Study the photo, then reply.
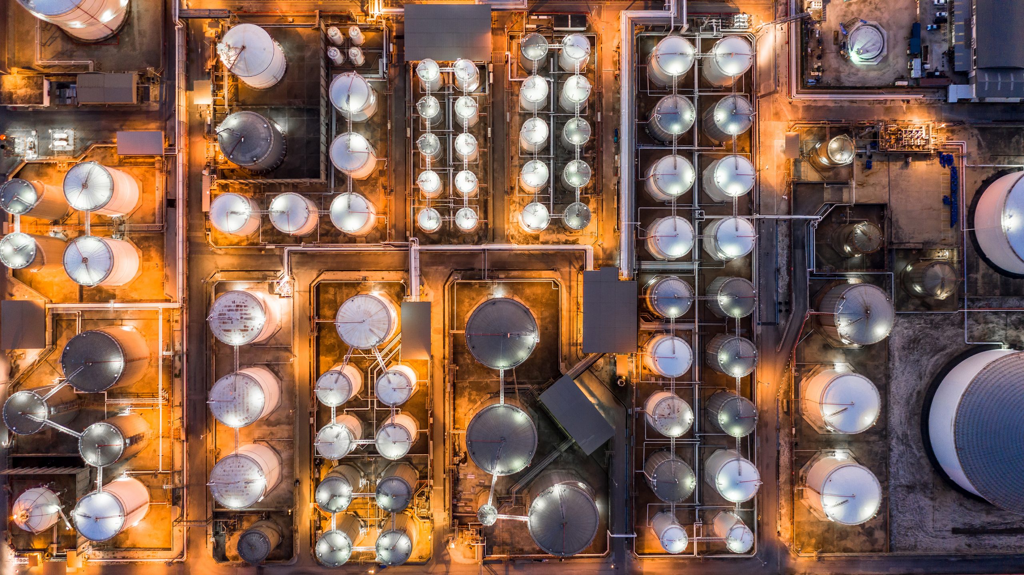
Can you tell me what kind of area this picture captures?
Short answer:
industrial area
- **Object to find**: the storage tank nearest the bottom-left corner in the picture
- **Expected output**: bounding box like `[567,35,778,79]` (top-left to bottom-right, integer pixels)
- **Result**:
[8,482,75,534]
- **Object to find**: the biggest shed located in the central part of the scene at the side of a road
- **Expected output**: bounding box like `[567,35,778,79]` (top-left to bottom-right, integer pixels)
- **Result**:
[582,267,637,353]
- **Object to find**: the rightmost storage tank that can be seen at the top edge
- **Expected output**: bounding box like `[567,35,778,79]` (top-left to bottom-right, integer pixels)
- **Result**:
[842,22,885,65]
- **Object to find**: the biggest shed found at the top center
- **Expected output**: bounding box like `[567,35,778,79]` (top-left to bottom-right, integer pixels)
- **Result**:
[404,4,491,68]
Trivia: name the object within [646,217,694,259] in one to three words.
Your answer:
storage tank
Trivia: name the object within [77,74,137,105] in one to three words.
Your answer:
building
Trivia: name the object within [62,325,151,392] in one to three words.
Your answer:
storage tank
